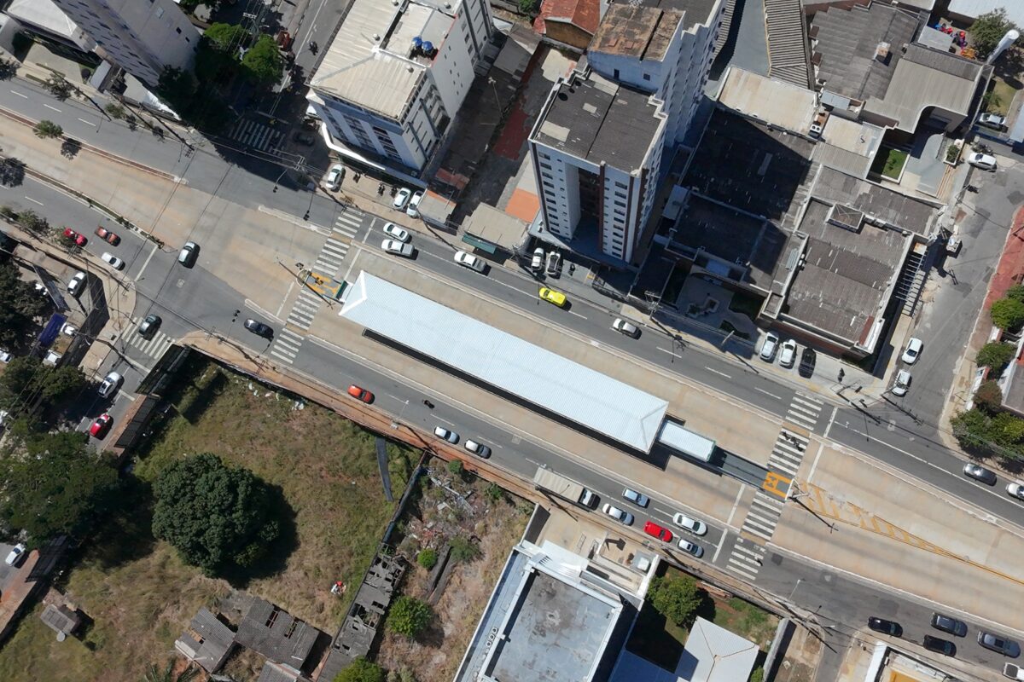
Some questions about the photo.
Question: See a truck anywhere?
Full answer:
Yes, the picture does show a truck.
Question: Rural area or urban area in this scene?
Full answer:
This place is urban.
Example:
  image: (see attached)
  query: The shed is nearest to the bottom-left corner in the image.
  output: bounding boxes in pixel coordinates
[40,605,88,634]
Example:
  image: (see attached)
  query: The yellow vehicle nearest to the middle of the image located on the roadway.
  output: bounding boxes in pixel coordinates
[539,288,567,308]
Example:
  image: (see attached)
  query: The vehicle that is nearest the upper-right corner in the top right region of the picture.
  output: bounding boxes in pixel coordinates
[975,111,1009,131]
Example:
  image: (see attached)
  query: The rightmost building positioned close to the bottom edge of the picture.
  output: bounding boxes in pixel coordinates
[852,636,967,682]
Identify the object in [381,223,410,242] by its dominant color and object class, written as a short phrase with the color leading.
white car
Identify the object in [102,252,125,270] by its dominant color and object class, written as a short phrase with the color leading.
white car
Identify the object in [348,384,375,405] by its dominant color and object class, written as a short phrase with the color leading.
red car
